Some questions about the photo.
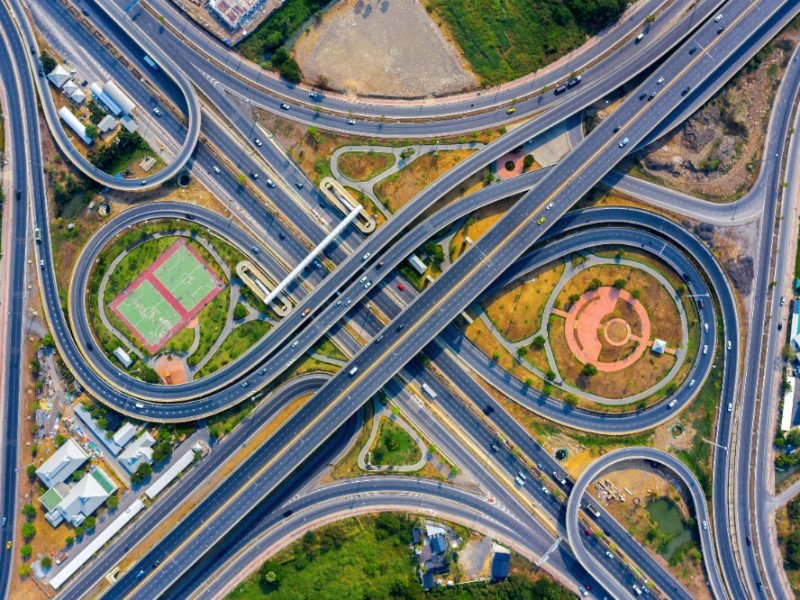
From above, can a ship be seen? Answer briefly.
No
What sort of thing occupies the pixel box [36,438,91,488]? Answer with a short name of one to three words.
building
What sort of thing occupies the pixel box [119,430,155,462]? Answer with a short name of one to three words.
house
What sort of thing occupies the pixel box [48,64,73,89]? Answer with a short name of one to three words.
building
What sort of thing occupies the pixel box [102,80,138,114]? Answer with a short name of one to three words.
shed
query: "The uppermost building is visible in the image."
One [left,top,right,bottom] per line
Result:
[205,0,272,36]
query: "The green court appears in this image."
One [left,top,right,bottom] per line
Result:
[109,238,224,354]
